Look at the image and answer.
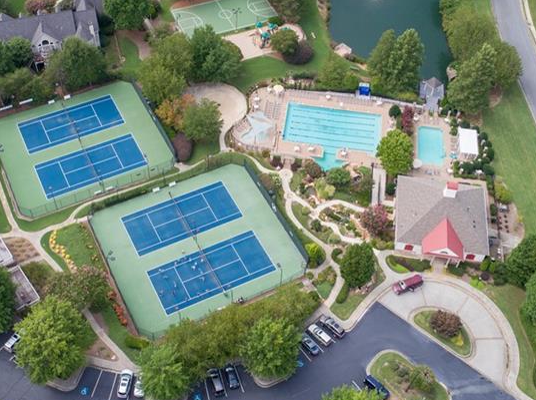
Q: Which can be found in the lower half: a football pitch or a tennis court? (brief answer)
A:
tennis court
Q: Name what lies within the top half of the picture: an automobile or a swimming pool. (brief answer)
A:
swimming pool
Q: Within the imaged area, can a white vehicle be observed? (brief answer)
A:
Yes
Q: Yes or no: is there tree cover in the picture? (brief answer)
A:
Yes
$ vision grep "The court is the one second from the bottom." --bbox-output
[121,180,244,256]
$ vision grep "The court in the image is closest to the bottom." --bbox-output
[147,230,276,315]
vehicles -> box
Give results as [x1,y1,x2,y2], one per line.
[225,363,241,390]
[307,322,332,345]
[320,312,346,337]
[364,372,392,397]
[116,369,131,396]
[0,327,20,353]
[134,369,146,396]
[208,365,226,397]
[299,331,322,355]
[395,274,422,292]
